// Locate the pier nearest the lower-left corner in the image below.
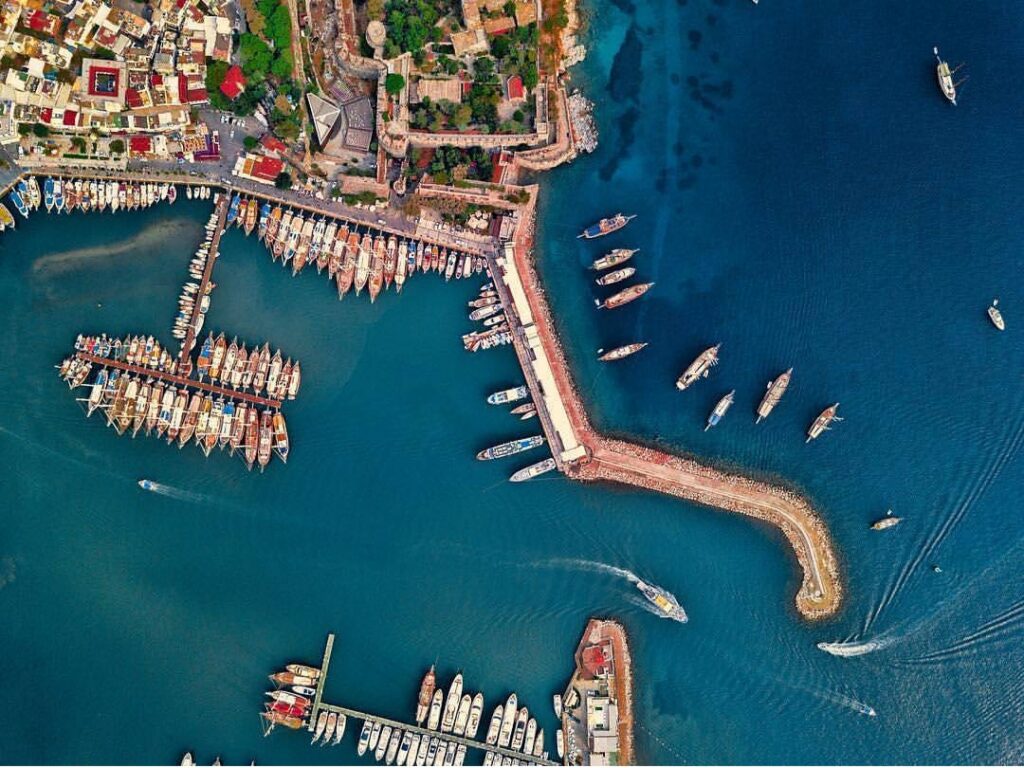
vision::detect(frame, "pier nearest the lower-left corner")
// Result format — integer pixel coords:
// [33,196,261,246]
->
[309,633,335,730]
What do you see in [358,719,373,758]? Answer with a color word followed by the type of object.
white boat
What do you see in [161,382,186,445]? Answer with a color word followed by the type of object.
white boat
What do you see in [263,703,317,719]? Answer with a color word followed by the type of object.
red boat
